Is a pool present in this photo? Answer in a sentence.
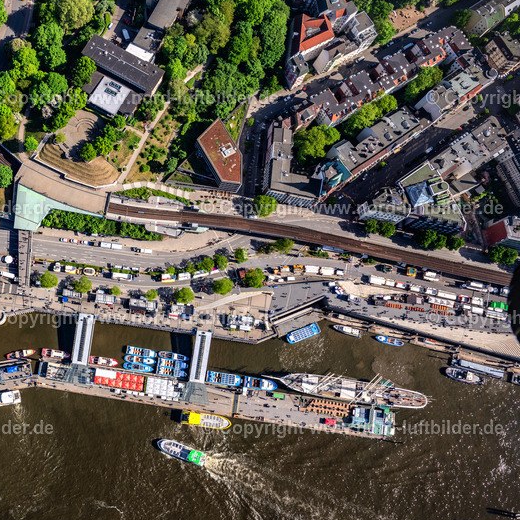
No, the photo shows no pool.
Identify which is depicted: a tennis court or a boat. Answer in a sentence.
This aerial view contains a boat.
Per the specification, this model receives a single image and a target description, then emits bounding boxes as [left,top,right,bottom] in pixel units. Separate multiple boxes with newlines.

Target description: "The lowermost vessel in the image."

[158,441,207,467]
